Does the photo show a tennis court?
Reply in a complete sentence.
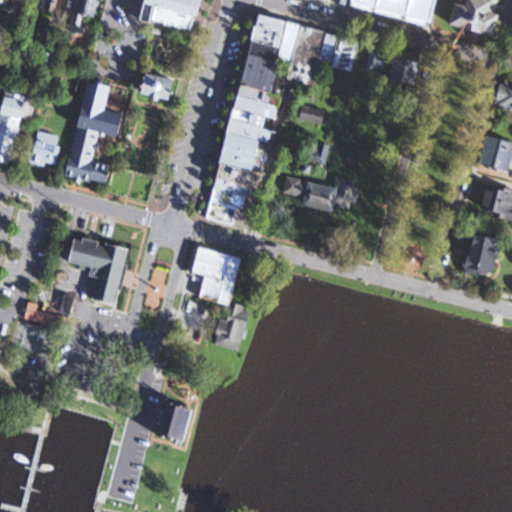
No, no tennis court is visible in the view.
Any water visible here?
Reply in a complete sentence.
Yes, the picture does contain water.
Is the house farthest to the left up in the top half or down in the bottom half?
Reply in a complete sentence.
You can find the house farthest to the left in the top half.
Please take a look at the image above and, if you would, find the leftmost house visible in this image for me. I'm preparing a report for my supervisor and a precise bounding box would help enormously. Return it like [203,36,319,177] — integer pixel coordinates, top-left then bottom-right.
[0,93,36,167]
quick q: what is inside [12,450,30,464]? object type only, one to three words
boat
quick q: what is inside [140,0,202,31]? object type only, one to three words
building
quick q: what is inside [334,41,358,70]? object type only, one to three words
shed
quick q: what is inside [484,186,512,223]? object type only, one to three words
house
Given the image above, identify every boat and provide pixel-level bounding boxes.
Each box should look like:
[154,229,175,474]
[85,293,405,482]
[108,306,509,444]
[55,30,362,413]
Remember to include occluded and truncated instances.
[36,464,54,473]
[12,450,30,464]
